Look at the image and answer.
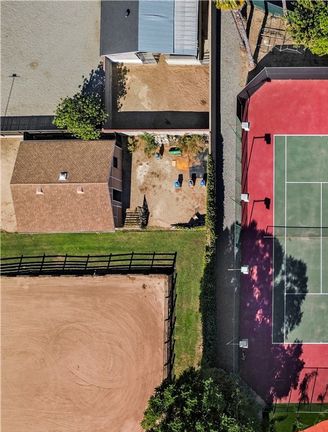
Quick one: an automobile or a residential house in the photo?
residential house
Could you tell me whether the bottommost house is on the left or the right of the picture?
left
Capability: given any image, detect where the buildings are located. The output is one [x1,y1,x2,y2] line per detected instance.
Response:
[106,0,206,65]
[14,141,126,231]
